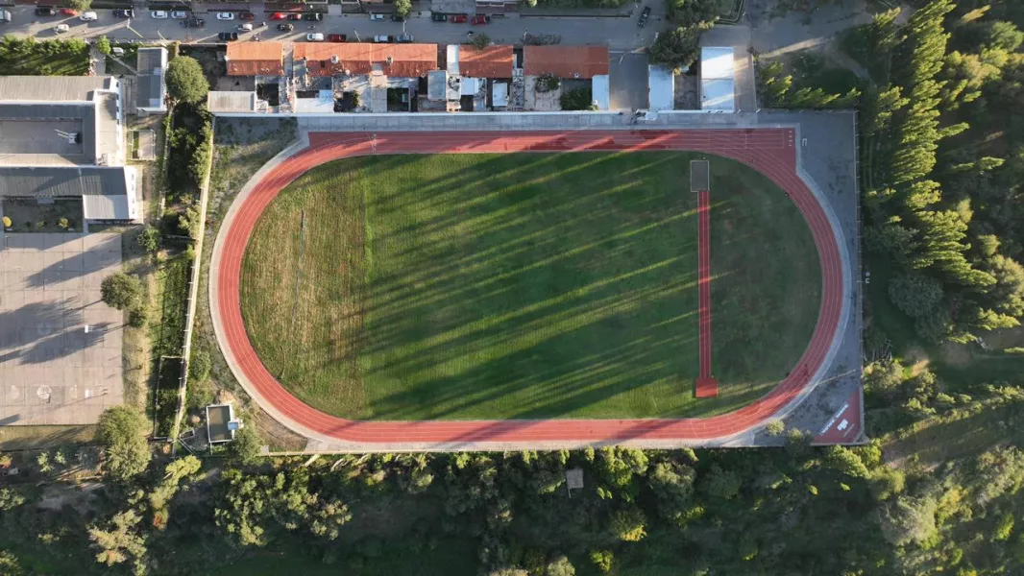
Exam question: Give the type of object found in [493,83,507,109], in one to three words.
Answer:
shed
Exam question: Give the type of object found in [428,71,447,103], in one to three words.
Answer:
shed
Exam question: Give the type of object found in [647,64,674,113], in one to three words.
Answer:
building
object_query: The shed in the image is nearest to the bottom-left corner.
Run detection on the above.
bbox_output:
[208,404,245,442]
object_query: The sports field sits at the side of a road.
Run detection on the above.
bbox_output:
[241,152,822,420]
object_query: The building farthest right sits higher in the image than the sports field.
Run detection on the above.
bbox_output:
[697,47,734,112]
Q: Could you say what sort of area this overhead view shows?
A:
sports ground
